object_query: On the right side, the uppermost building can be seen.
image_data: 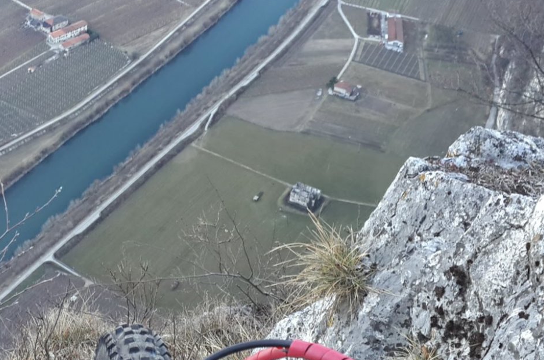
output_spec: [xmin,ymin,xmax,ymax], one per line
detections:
[385,14,405,52]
